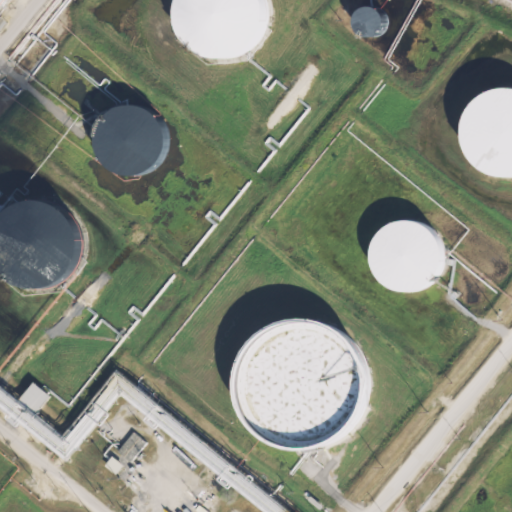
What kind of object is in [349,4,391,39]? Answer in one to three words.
storage tank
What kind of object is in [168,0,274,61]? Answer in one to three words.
storage tank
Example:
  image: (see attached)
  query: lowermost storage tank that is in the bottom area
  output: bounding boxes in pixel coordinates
[228,317,374,454]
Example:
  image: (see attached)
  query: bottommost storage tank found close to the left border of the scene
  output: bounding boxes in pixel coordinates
[0,199,84,290]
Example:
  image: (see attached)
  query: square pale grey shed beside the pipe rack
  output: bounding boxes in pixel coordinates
[20,382,53,412]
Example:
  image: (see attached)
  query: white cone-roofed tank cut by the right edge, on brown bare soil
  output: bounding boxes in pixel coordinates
[458,85,512,180]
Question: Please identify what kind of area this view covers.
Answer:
industrial area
